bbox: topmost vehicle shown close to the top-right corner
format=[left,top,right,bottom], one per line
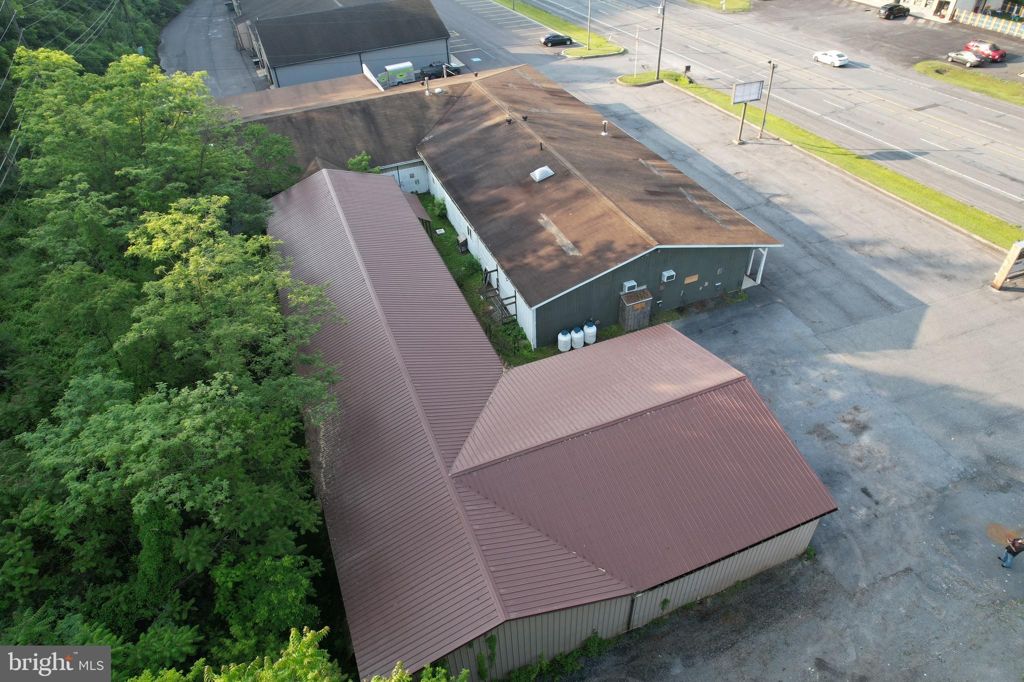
[880,2,911,18]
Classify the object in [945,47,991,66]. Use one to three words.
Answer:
car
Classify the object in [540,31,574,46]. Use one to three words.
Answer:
car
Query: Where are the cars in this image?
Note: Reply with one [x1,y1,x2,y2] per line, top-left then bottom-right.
[813,48,851,66]
[967,38,1010,62]
[540,31,574,46]
[945,47,991,66]
[880,2,911,18]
